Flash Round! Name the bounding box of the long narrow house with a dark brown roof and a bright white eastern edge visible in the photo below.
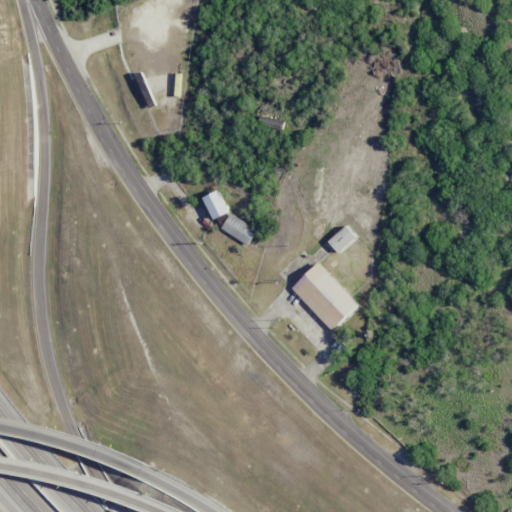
[134,71,158,108]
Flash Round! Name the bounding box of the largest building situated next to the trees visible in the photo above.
[292,263,359,330]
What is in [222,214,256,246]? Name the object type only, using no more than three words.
house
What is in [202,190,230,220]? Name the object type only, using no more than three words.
house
